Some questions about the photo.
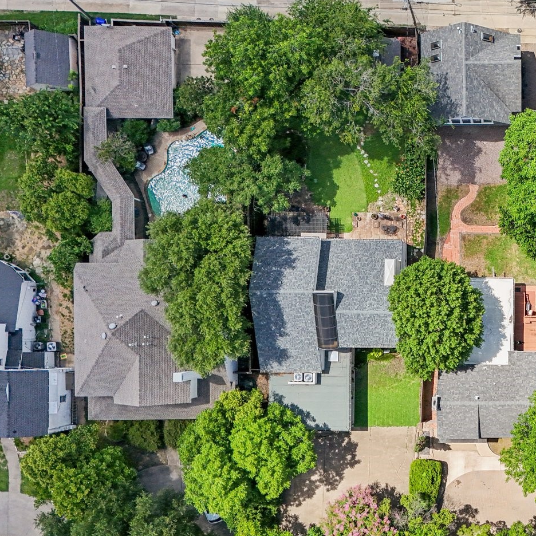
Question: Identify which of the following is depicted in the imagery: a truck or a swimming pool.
swimming pool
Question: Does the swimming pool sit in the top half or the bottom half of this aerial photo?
top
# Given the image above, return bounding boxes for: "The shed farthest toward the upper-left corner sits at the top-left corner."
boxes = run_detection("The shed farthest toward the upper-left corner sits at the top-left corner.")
[24,30,78,92]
